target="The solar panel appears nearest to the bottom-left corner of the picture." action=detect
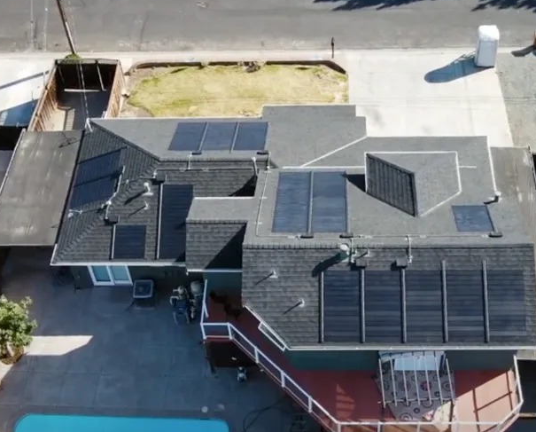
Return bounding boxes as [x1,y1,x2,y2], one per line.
[113,225,146,260]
